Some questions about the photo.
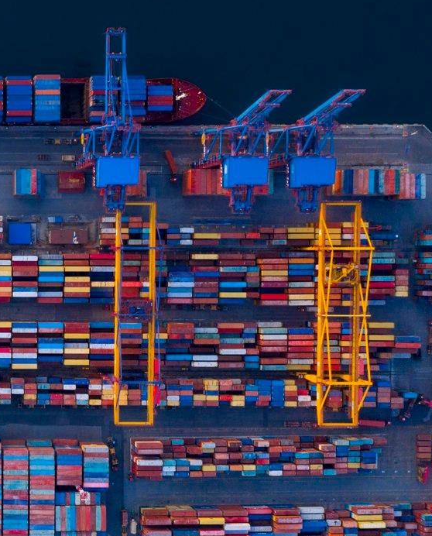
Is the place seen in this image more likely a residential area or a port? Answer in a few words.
port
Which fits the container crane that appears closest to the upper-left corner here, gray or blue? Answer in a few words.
blue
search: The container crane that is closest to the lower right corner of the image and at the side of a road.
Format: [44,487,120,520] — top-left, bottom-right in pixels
[286,201,376,426]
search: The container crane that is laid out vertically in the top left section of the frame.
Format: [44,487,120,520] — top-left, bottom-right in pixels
[68,26,141,212]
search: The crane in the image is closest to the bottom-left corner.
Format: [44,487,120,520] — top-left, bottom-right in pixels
[94,201,163,426]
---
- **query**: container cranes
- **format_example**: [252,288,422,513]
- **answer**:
[68,26,141,212]
[286,201,376,426]
[255,89,369,212]
[94,201,163,426]
[188,89,293,212]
